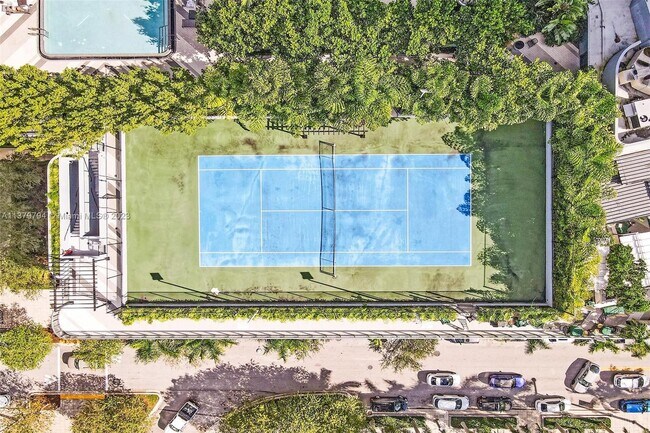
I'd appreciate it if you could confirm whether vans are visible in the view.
Yes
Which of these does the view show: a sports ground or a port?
sports ground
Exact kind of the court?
tennis court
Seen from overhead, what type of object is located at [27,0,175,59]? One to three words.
swimming pool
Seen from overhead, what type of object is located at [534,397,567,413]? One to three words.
car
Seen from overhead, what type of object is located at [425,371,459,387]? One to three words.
car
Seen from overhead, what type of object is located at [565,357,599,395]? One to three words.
van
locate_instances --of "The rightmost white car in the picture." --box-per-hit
[611,373,648,390]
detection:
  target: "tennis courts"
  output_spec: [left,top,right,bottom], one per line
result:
[126,119,547,300]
